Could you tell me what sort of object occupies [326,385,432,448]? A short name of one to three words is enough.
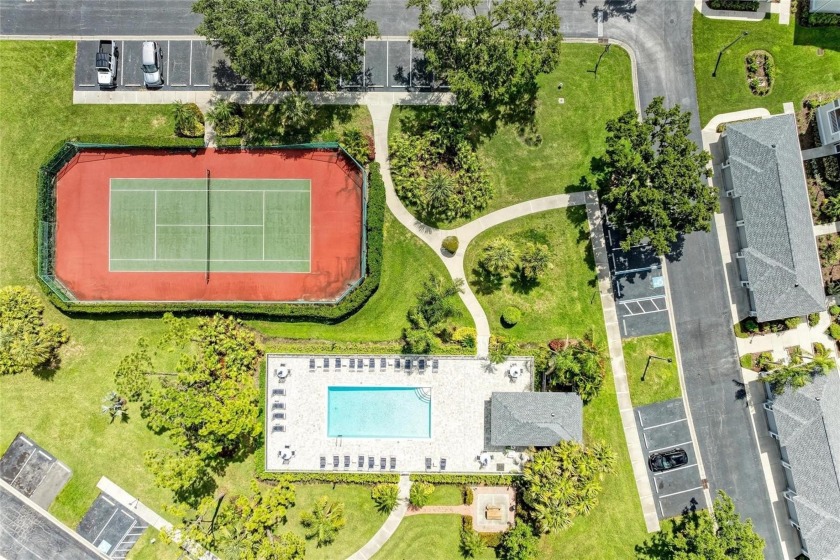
swimming pool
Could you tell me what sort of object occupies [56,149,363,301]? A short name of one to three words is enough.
tennis court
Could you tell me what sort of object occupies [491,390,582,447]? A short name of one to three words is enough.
building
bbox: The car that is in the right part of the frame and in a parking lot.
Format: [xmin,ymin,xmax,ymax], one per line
[647,448,689,471]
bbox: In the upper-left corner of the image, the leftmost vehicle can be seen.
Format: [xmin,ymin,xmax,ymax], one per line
[95,39,119,88]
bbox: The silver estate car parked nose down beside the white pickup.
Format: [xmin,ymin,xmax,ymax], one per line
[142,45,164,89]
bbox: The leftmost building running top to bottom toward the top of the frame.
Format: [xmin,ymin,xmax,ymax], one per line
[719,115,828,323]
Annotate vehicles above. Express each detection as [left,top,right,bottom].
[647,448,689,471]
[142,45,164,89]
[95,39,119,88]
